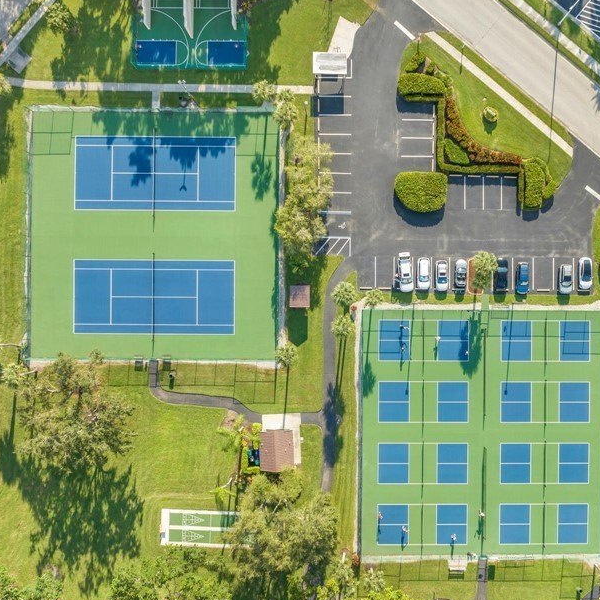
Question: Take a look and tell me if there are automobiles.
Yes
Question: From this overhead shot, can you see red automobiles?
No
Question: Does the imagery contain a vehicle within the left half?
No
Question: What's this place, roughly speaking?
sports ground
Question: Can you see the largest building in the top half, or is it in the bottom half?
bottom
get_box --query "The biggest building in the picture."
[259,432,295,473]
